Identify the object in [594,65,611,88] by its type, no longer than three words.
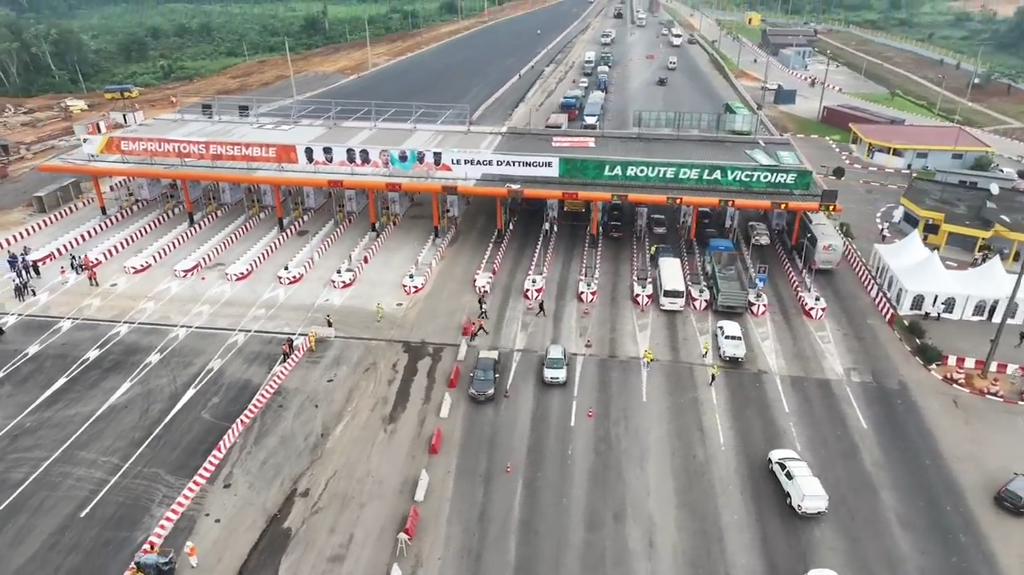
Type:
vehicle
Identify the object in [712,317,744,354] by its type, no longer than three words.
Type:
truck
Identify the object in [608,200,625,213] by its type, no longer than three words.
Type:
vehicle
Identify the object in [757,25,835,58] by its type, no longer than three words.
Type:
shed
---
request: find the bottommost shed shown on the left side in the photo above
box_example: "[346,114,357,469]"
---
[19,175,88,217]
